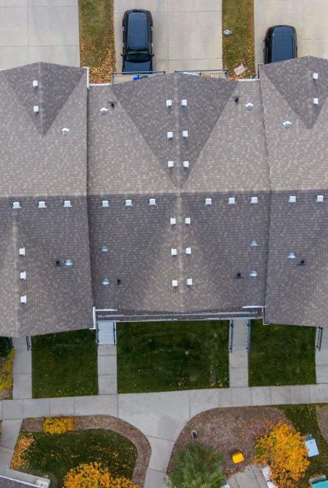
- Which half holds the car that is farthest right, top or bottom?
top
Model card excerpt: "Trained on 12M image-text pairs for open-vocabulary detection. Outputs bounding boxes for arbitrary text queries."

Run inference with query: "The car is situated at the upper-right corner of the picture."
[263,17,300,64]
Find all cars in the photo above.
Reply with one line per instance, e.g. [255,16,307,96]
[263,17,300,64]
[118,1,158,77]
